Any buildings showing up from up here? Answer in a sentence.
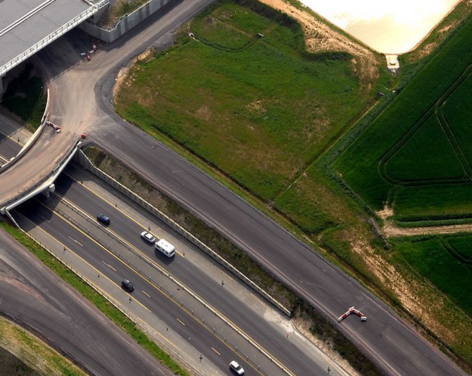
No, I find no building anywhere in the image.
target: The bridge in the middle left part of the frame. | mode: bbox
[0,117,85,225]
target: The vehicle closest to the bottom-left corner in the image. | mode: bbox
[119,277,136,292]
